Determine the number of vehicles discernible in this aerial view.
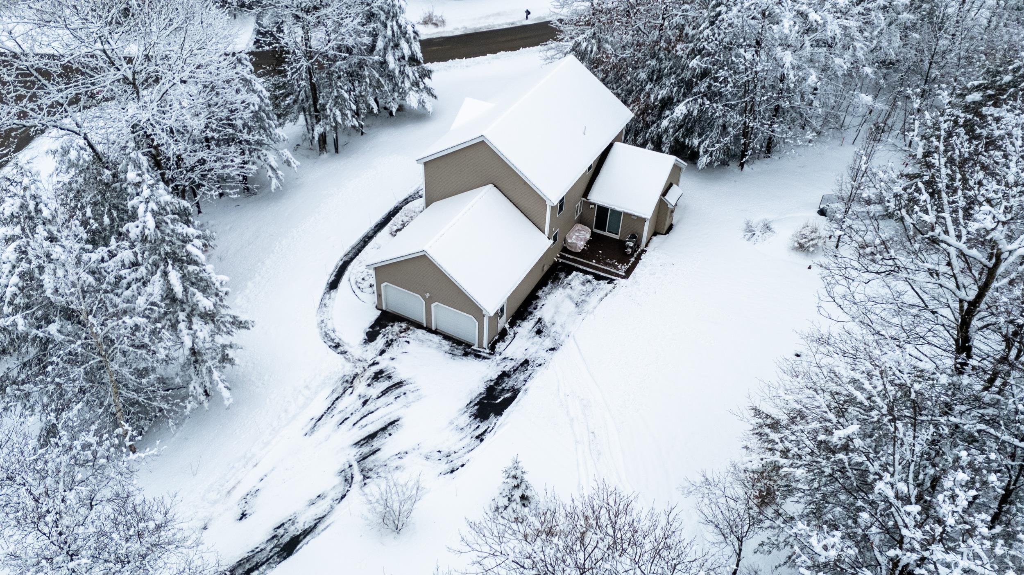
0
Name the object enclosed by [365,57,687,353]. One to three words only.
house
